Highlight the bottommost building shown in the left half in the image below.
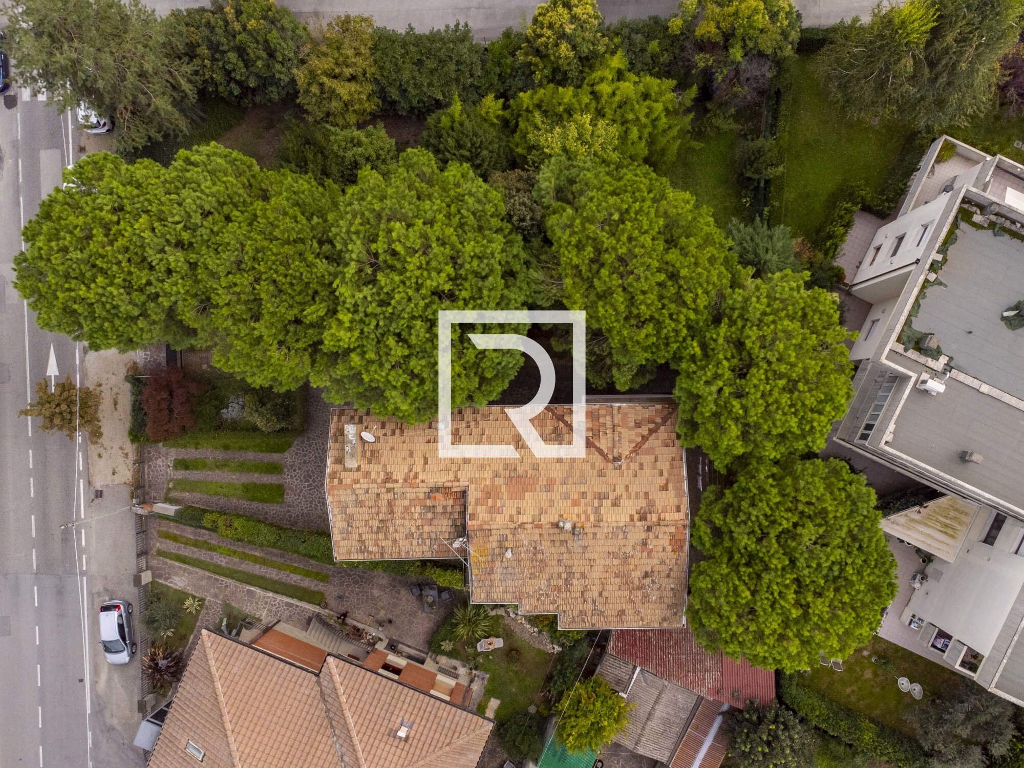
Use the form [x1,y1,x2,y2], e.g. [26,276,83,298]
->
[146,611,501,768]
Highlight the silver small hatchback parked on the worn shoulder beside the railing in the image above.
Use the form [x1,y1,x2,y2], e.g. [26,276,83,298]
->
[90,601,133,667]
